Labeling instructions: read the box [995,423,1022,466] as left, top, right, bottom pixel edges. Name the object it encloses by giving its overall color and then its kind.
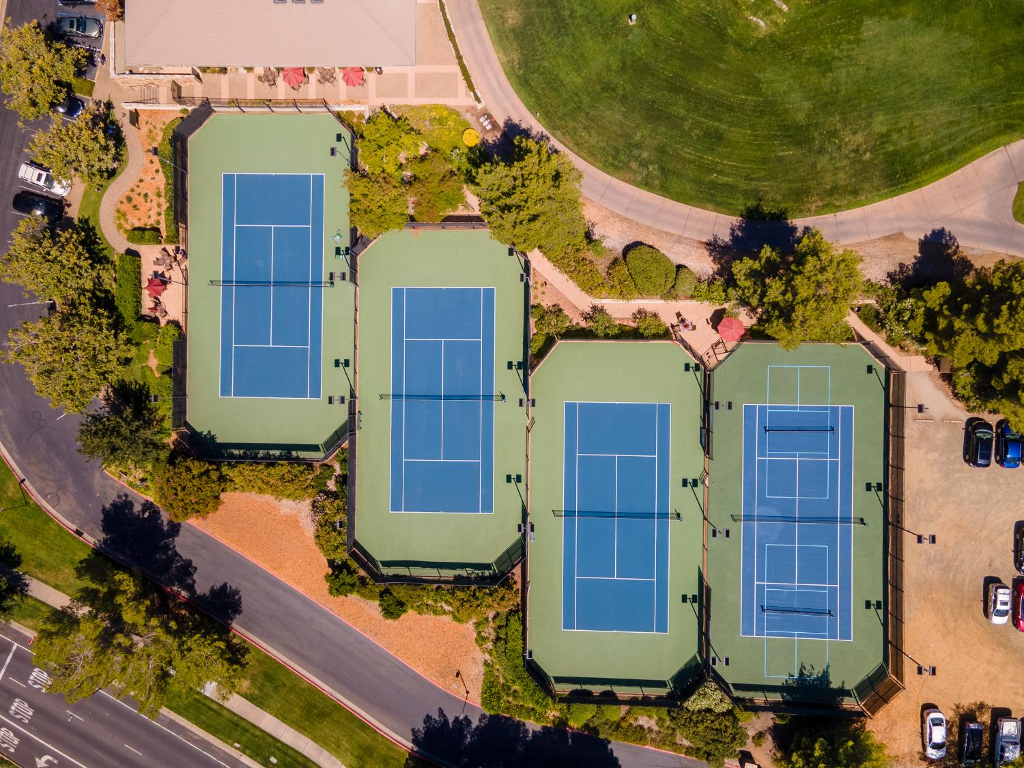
blue car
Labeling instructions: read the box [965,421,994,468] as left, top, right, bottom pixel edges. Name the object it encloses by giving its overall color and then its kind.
black car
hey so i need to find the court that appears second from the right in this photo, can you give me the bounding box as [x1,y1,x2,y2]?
[527,341,705,694]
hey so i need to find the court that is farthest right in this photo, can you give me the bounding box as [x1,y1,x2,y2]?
[709,343,890,704]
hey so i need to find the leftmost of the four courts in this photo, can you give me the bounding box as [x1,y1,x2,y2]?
[185,113,355,460]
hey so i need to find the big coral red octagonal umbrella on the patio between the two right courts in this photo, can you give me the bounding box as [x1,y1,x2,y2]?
[718,317,743,342]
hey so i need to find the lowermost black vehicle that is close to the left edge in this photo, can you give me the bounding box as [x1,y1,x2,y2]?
[12,196,66,222]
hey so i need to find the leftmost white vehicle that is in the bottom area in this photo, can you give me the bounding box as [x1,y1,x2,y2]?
[920,708,946,756]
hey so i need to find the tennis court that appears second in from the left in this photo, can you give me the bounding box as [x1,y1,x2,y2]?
[355,229,529,576]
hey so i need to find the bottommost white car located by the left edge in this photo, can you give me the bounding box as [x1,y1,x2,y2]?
[18,165,73,196]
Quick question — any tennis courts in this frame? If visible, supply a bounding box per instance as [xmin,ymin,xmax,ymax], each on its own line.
[185,113,355,460]
[527,341,705,694]
[355,229,529,576]
[709,343,890,704]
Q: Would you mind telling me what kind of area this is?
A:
sports ground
